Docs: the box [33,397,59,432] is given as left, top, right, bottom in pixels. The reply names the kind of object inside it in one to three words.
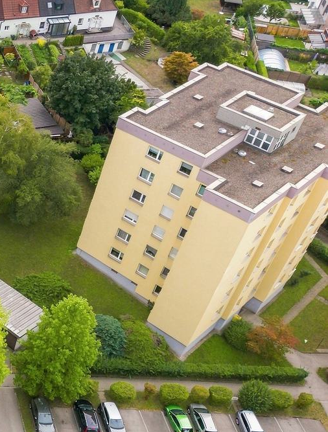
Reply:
car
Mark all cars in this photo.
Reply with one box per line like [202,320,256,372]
[33,397,59,432]
[240,408,270,432]
[97,399,127,432]
[167,402,198,432]
[190,400,222,432]
[74,397,102,432]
